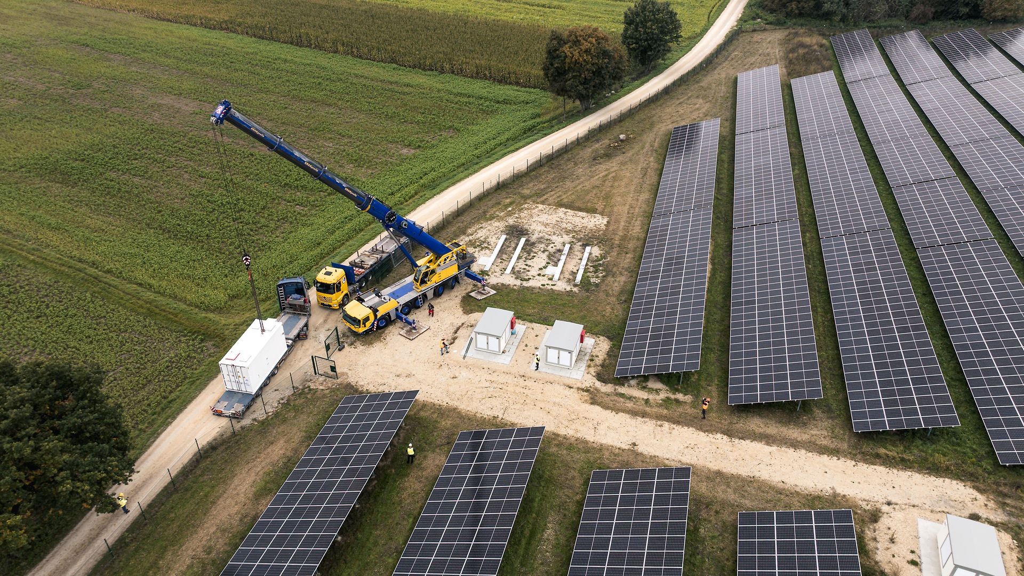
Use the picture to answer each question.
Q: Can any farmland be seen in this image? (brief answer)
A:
Yes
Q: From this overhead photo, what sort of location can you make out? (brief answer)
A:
solar farm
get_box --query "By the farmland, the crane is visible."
[208,103,484,336]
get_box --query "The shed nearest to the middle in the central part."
[472,302,517,354]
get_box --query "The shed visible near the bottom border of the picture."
[939,511,1005,576]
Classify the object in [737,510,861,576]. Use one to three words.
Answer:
solar array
